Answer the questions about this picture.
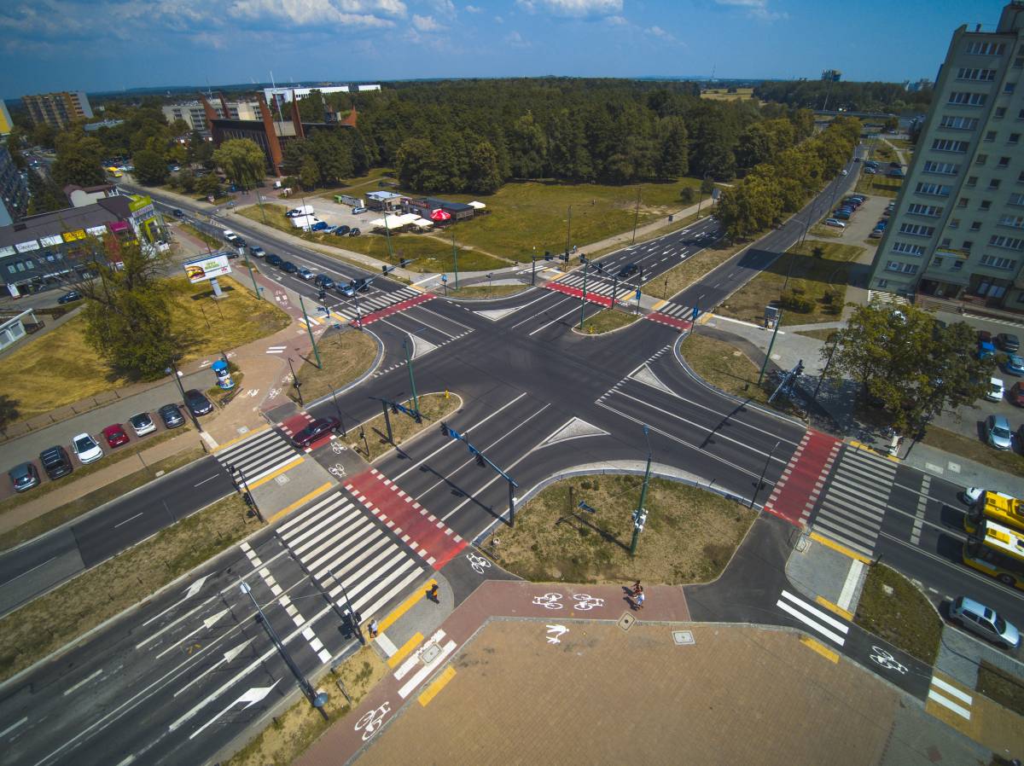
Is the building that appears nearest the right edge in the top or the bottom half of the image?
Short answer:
top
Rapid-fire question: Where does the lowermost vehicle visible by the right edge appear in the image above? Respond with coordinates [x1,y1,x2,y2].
[940,598,1024,653]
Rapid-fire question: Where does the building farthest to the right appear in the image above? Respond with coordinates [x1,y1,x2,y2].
[869,0,1024,315]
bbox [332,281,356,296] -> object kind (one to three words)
car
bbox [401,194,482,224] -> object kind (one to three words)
building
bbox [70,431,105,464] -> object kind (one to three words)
car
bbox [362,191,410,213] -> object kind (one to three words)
shed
